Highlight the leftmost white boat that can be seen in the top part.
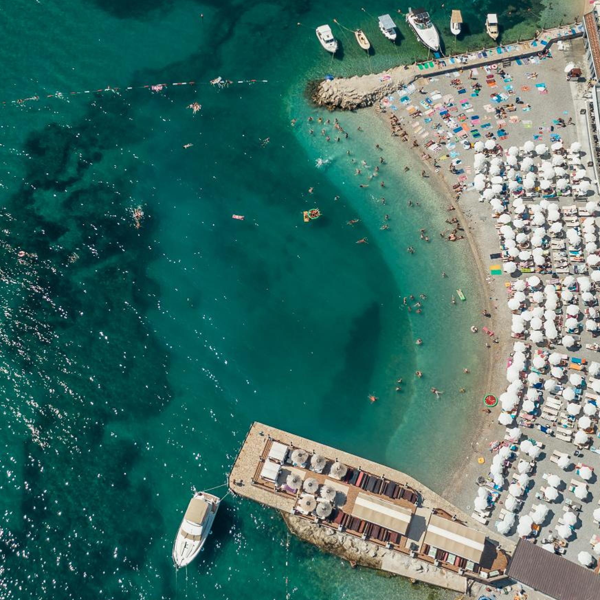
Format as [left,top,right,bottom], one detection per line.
[316,20,337,55]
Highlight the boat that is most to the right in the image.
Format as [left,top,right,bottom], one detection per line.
[485,8,500,40]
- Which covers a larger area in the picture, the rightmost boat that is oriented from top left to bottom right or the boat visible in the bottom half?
the boat visible in the bottom half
